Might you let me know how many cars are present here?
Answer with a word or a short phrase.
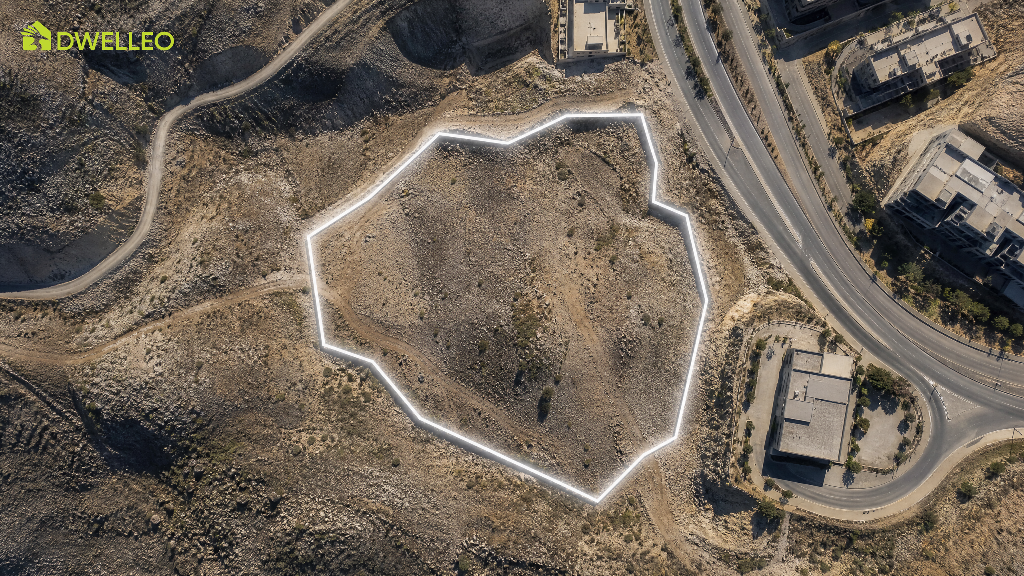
0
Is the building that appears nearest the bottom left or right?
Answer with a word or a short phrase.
right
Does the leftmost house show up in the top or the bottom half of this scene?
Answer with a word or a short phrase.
top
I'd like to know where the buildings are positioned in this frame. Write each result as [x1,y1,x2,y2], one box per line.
[886,128,1024,285]
[769,349,852,469]
[841,12,996,118]
[768,0,905,46]
[559,0,626,62]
